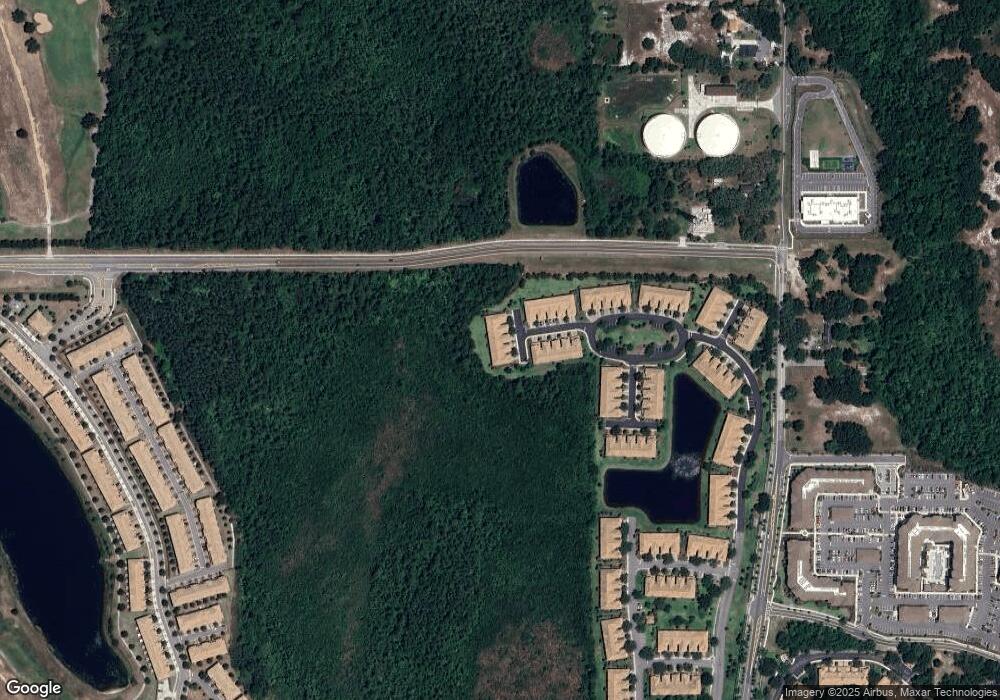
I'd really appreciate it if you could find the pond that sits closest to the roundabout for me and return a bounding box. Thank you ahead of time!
[604,374,721,524]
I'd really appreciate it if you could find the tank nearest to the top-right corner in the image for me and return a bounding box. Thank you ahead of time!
[697,113,740,157]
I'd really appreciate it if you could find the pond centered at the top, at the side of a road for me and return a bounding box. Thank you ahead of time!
[516,152,578,226]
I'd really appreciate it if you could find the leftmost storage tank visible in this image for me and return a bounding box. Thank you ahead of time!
[644,114,687,158]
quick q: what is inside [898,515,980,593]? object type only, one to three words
building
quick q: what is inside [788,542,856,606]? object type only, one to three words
building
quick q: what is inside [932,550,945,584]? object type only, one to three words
swimming pool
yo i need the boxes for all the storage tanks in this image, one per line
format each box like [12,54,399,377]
[697,113,740,157]
[644,114,687,158]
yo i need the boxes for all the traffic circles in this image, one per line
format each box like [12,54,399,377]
[587,312,687,363]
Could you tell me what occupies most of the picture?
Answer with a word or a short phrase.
trees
